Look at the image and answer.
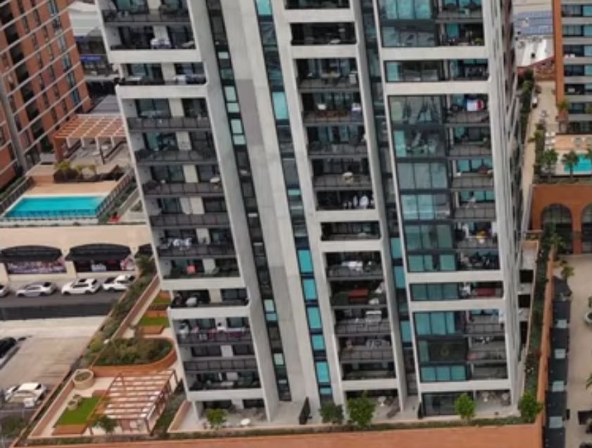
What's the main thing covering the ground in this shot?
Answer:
buildings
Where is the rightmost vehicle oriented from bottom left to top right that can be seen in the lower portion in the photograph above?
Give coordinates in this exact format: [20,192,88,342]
[103,275,131,294]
